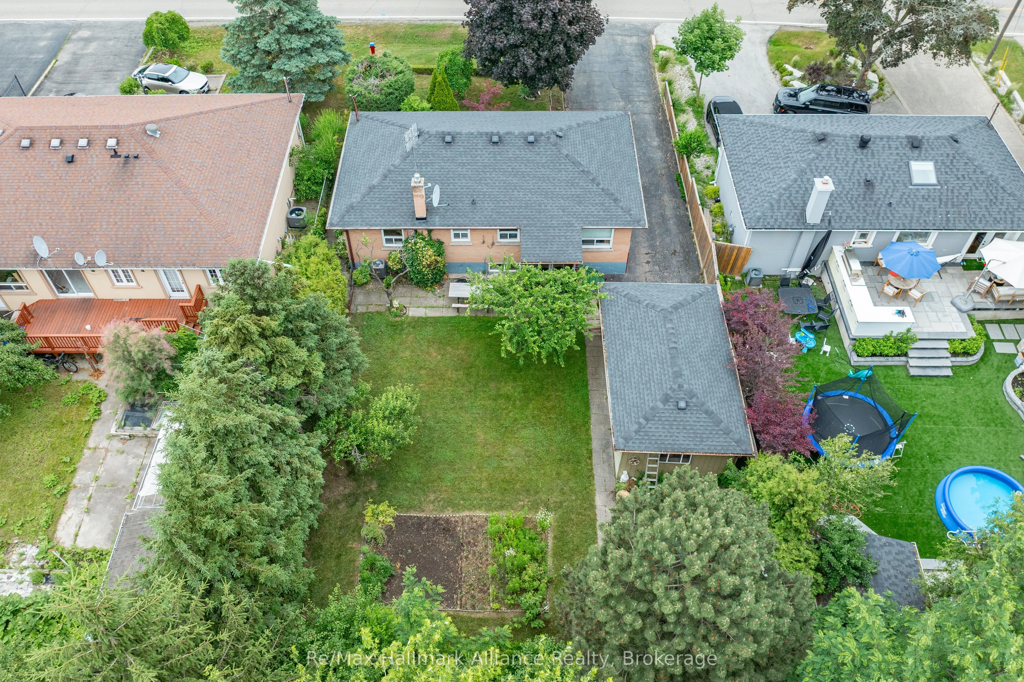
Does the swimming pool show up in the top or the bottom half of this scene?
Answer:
bottom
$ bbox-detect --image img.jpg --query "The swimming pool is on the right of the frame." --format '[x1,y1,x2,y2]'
[931,465,1024,544]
